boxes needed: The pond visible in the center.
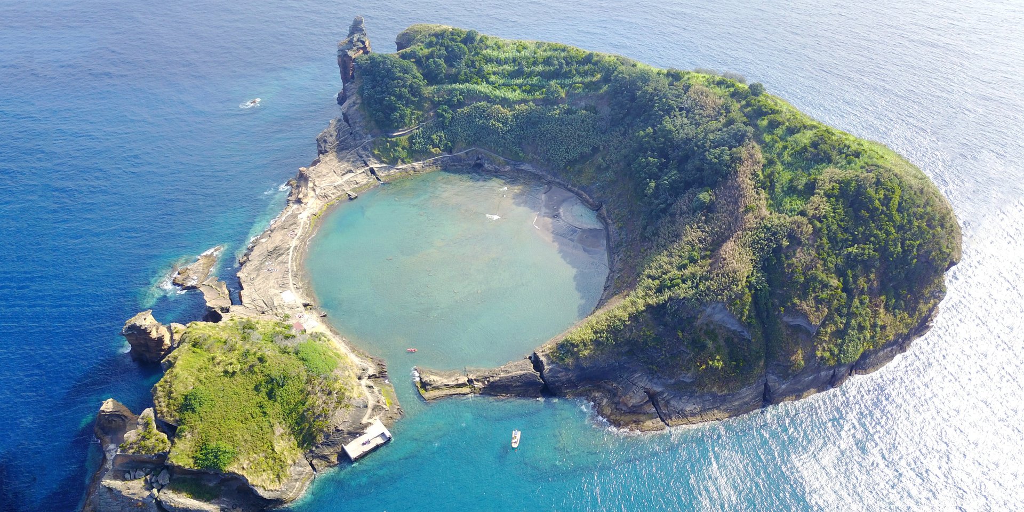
[305,173,600,382]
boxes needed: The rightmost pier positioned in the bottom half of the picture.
[342,419,392,466]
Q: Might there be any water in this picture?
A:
Yes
